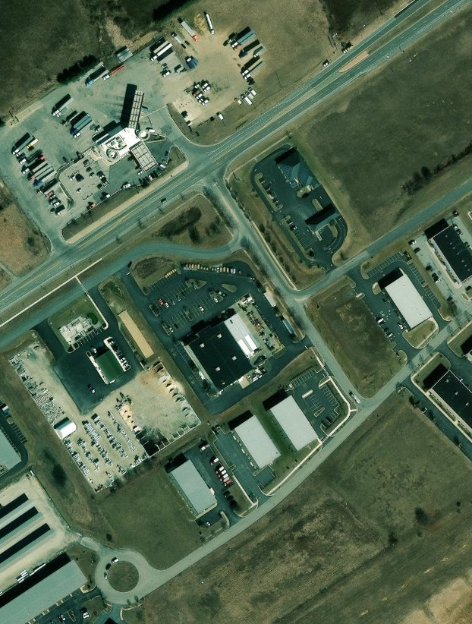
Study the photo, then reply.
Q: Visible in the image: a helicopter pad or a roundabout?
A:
roundabout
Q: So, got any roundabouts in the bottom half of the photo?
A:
Yes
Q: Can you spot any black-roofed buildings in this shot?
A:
Yes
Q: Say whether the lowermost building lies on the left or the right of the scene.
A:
left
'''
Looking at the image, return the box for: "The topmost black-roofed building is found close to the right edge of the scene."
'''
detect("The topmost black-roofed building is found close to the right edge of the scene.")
[429,225,472,285]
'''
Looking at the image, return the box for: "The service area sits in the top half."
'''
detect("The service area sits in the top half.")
[90,128,142,160]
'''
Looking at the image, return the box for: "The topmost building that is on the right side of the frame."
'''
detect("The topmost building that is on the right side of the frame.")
[276,148,320,196]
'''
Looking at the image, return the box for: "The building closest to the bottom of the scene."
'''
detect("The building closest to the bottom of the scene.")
[0,561,87,624]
